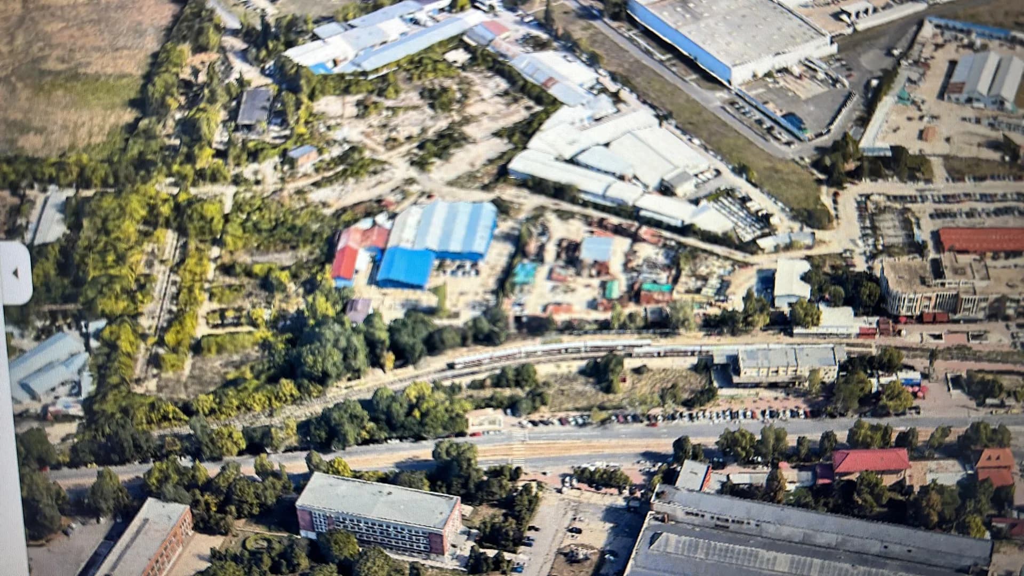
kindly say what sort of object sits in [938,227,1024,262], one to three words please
building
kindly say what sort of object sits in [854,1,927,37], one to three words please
shed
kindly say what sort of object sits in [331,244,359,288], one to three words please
shed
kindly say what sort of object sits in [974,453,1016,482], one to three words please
house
